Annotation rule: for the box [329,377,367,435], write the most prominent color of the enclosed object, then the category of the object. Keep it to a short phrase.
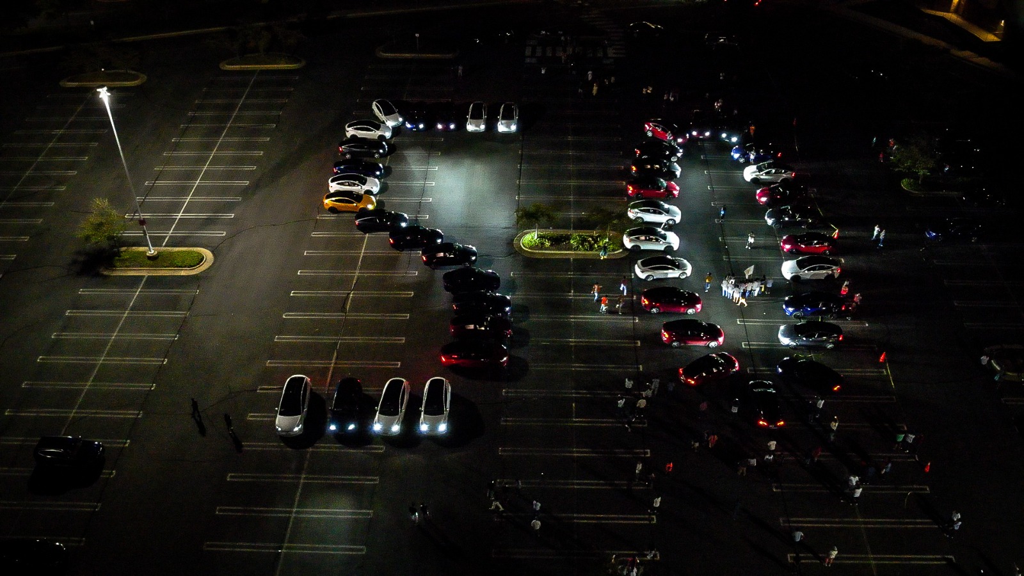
black car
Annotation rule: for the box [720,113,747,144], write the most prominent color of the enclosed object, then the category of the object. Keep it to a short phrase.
black car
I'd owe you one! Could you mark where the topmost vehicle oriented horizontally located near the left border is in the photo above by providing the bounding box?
[25,431,111,473]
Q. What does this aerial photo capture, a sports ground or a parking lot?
parking lot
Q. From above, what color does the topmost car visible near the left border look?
black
